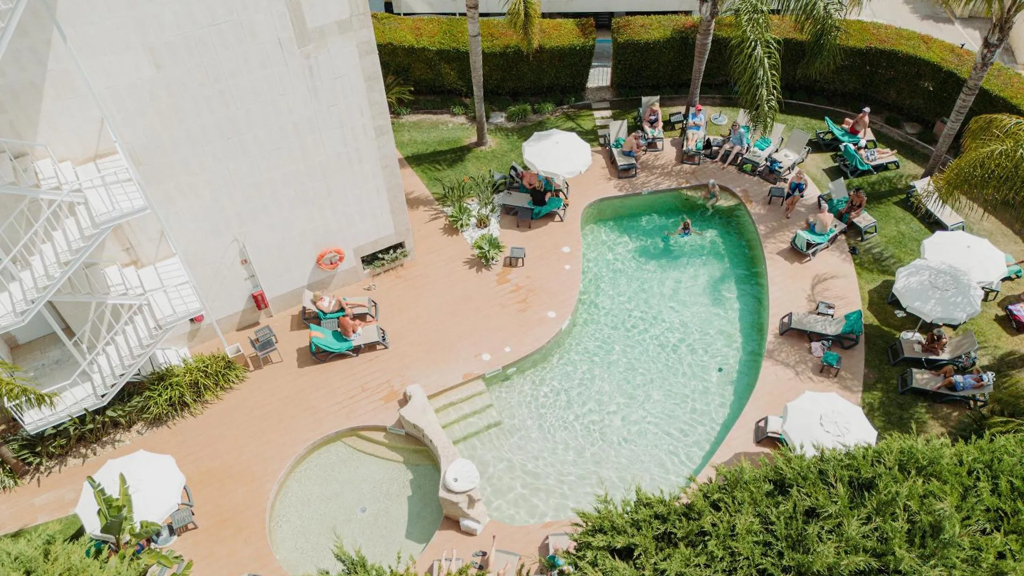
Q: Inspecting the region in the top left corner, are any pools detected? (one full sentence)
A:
No, the scene shows no pool in the top left corner.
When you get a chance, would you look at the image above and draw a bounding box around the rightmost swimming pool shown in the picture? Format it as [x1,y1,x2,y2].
[428,182,772,529]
